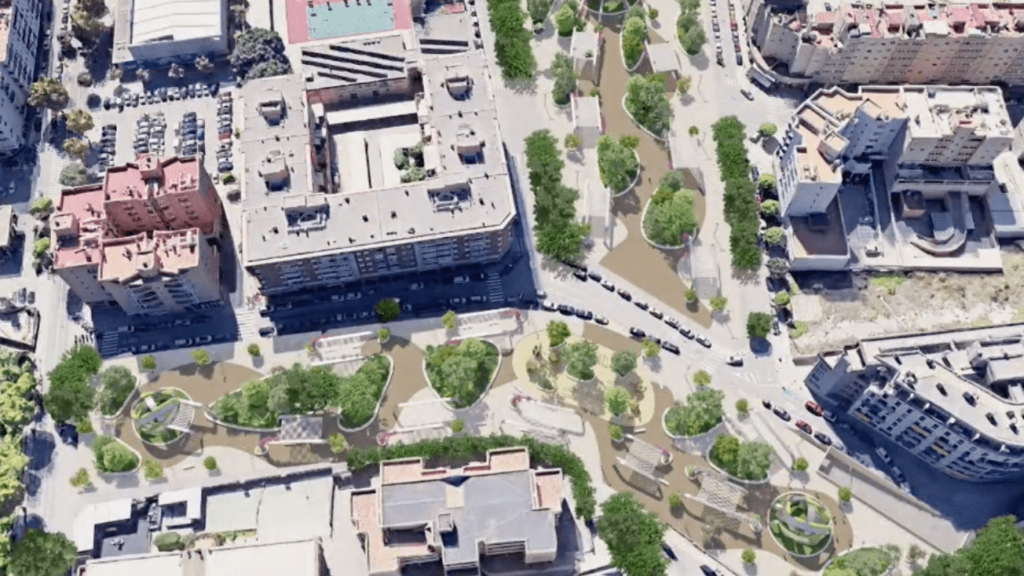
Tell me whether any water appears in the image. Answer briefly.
No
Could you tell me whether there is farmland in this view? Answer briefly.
No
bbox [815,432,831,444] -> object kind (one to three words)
vehicle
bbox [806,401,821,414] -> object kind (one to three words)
vehicle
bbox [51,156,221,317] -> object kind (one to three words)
building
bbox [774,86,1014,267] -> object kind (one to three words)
building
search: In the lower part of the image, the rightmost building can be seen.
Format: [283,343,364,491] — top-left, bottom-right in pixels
[801,326,1024,483]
